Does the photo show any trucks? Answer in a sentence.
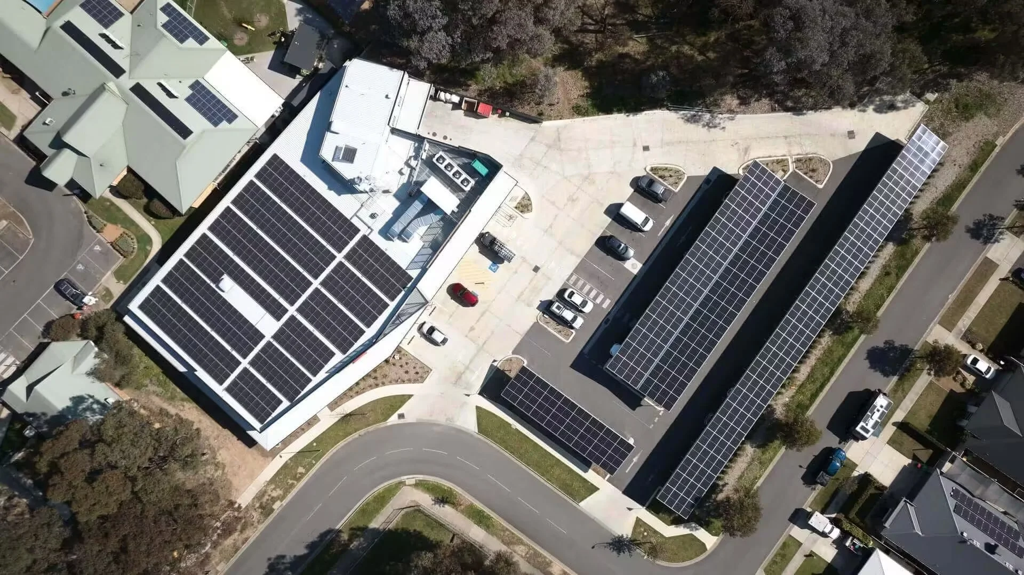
Yes, a truck is visible in the scene.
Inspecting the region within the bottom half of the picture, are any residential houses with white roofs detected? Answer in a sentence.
Yes, a residential house with a white roof can be seen within the bottom half of the picture.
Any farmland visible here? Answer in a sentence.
No, there is no farmland in the image.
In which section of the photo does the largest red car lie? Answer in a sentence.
The largest red car sits in the center section of the image.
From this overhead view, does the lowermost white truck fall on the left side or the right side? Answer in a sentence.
It is on the right.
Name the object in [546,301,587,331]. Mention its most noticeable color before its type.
white truck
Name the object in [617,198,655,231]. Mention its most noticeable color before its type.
white van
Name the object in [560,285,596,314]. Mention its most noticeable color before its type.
white car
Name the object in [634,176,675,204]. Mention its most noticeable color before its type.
gray truck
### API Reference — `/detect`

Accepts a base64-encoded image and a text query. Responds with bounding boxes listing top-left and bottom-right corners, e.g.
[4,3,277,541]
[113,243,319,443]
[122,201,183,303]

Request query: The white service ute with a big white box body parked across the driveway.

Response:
[802,507,843,539]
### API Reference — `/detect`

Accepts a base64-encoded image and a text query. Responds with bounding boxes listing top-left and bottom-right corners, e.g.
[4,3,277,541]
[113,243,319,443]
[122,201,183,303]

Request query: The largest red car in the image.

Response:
[448,282,481,309]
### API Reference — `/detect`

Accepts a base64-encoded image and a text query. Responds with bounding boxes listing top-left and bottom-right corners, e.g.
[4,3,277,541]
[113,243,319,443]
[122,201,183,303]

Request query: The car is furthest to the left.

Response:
[52,278,92,311]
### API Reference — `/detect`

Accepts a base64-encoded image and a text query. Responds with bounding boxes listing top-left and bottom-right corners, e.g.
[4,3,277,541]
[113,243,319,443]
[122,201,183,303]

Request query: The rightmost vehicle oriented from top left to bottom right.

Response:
[960,352,997,380]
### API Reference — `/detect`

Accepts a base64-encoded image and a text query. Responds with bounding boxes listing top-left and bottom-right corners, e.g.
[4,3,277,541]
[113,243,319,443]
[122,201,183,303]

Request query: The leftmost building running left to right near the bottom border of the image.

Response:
[849,546,916,575]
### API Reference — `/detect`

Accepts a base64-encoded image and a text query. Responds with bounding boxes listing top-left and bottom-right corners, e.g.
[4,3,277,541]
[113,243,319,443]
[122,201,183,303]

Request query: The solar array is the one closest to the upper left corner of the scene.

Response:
[73,0,124,28]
